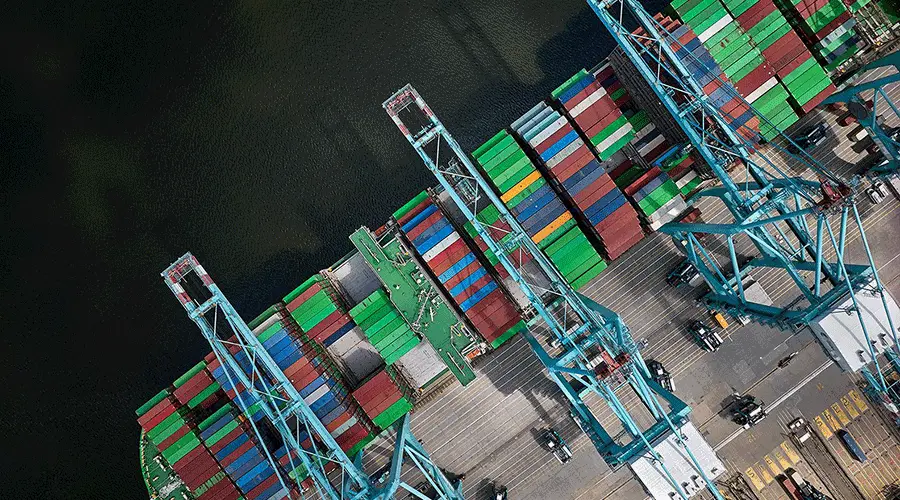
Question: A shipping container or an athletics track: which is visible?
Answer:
shipping container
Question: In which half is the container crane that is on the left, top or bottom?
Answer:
bottom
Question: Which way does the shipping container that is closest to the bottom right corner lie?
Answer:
on a diagonal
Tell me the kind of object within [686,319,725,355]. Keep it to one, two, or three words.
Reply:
work vehicle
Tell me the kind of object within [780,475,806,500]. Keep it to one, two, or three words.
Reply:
shipping container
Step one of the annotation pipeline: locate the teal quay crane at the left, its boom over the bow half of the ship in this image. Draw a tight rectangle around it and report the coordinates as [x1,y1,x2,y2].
[154,248,468,500]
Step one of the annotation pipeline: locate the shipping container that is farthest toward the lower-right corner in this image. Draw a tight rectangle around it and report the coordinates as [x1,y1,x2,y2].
[838,429,869,463]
